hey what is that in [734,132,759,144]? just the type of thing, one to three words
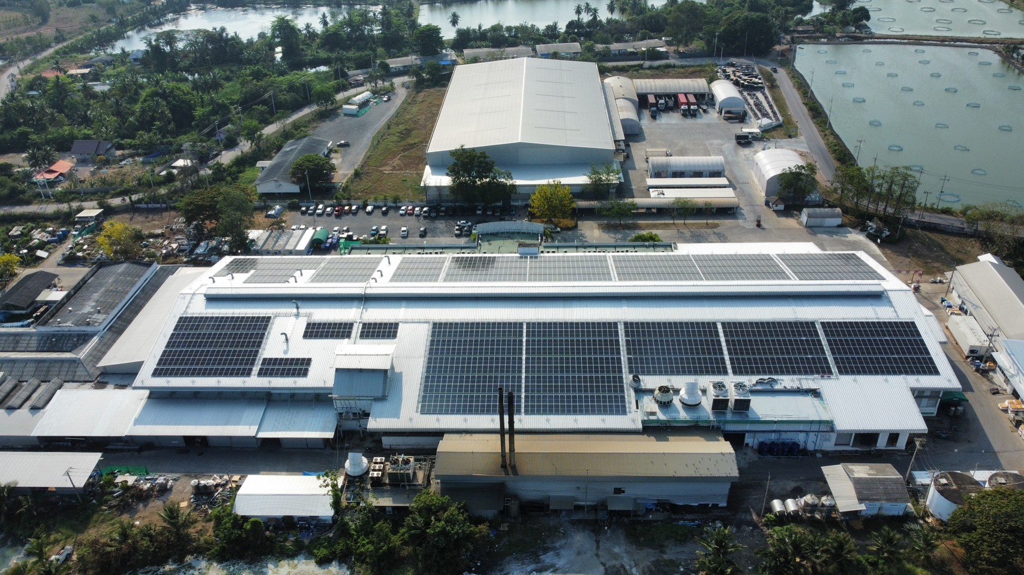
vehicle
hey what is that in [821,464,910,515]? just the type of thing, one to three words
shed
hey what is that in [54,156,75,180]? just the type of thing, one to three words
house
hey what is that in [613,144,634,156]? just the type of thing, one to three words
vehicle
